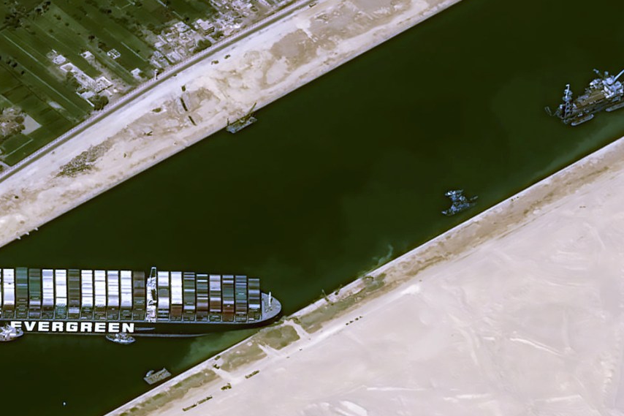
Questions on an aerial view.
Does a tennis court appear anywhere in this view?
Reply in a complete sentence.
No, the frame has no tennis court in it.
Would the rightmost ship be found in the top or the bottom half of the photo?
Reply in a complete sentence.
The top half of the photo is where the rightmost ship is.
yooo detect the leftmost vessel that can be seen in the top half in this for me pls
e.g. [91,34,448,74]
[228,110,256,134]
